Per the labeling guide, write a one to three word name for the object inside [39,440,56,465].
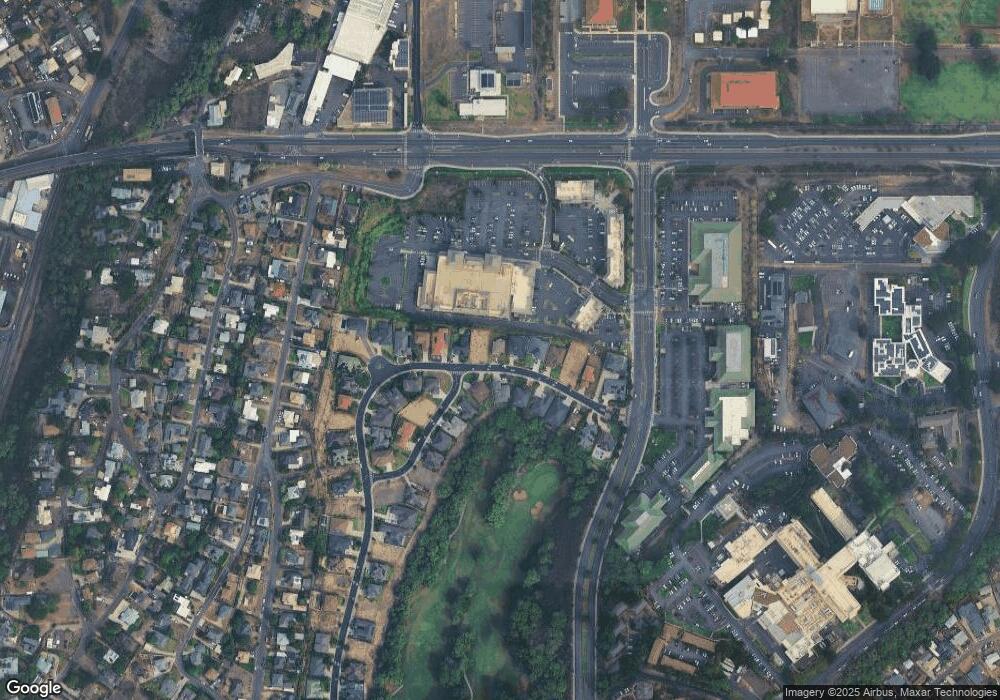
house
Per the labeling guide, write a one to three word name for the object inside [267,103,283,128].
building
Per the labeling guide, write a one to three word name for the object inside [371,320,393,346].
house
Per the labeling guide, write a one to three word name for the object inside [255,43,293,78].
building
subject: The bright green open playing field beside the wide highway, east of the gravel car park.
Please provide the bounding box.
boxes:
[899,62,1000,121]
